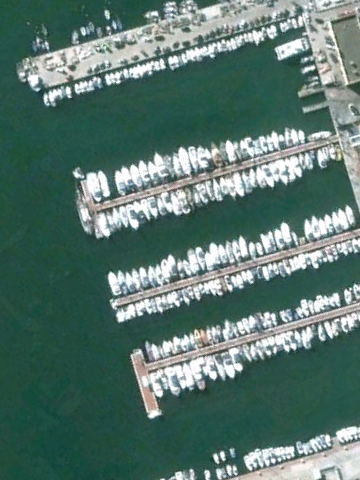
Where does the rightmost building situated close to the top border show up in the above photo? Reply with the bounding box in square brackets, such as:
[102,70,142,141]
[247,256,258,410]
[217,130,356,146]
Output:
[329,15,360,87]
